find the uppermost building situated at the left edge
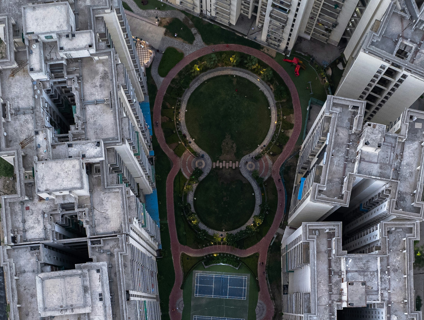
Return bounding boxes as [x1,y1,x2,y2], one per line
[0,0,165,260]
